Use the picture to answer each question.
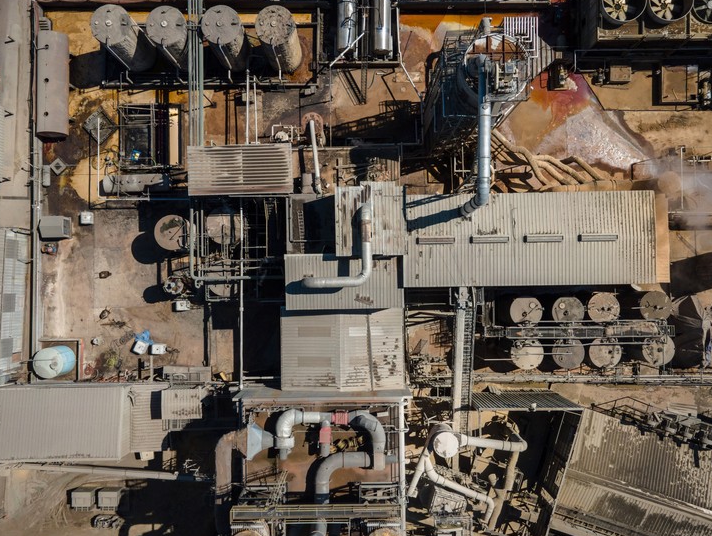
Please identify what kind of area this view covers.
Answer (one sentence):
What you see here is an industrial area.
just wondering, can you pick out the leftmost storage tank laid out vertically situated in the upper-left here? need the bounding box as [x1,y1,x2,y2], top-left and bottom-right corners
[37,27,78,134]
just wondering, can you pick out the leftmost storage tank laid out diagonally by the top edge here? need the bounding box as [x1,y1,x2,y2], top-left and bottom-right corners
[90,2,179,77]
